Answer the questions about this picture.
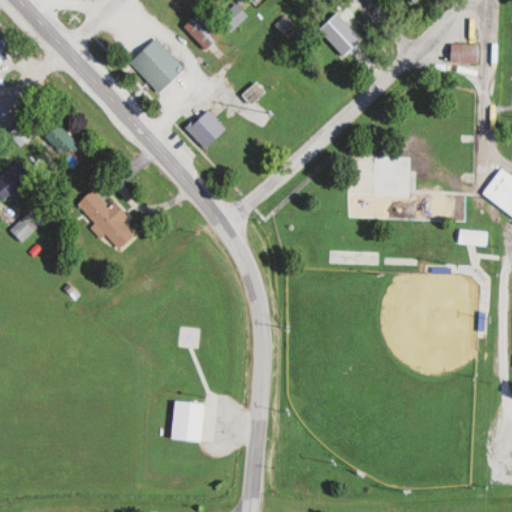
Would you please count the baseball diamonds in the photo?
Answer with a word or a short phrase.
1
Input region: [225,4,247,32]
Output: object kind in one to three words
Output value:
house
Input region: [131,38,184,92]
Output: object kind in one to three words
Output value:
building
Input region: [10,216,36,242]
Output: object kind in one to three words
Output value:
shed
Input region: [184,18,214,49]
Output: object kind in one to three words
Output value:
house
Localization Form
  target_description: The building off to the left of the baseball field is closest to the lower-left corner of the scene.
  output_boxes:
[170,401,204,442]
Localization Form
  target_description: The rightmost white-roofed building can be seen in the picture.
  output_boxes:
[483,168,512,216]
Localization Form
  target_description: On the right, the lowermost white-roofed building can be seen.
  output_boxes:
[458,228,490,248]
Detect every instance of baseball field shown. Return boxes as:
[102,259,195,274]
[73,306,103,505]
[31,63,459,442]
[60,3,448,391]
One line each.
[287,270,480,487]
